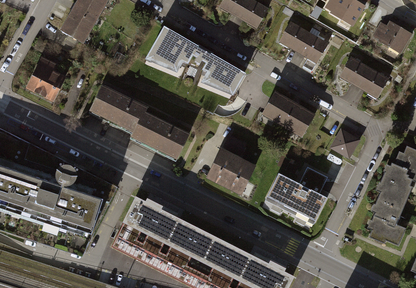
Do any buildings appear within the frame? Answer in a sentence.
Yes, looking at the shot, I can spot a building.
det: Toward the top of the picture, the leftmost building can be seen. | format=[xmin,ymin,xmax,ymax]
[26,56,69,104]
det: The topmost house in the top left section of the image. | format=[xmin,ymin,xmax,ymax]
[62,0,108,44]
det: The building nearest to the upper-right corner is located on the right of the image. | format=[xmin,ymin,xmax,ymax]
[374,20,414,57]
